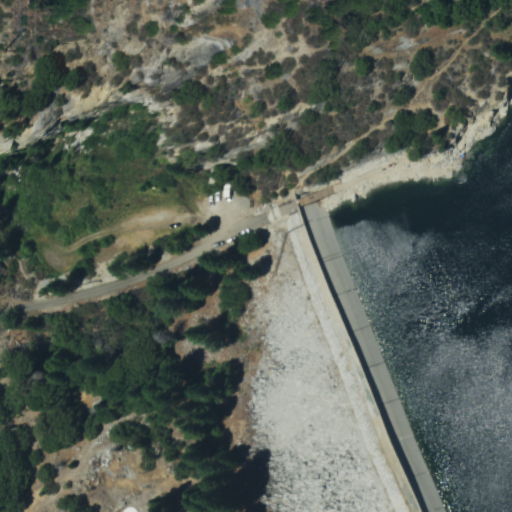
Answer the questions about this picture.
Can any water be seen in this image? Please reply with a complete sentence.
Yes, water can be seen from above here.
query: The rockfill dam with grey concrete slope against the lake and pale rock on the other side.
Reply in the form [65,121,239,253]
[242,200,446,512]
